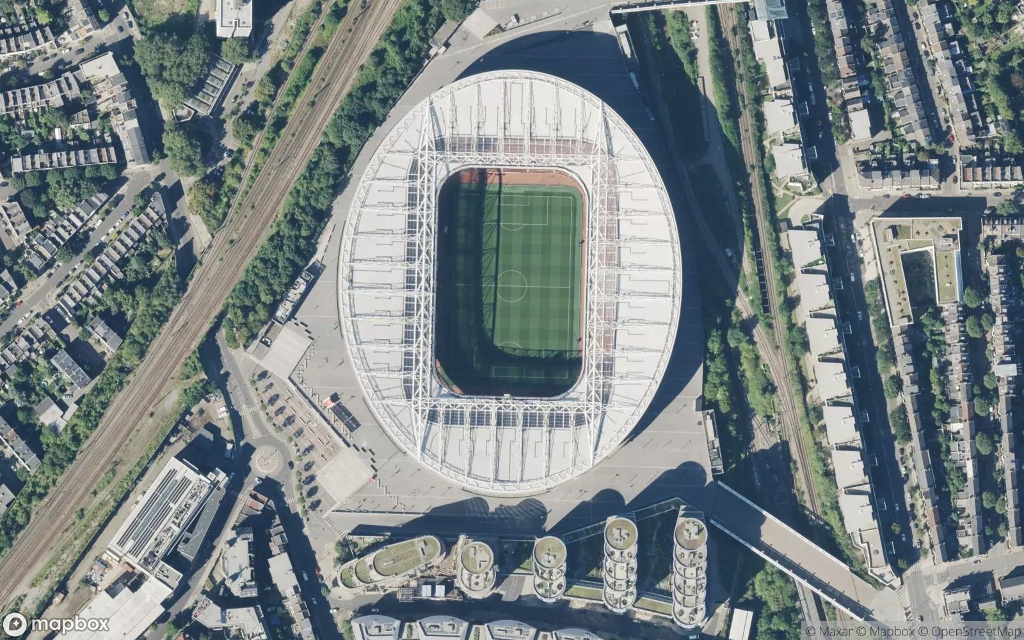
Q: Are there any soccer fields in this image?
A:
Yes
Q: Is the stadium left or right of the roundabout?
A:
on the right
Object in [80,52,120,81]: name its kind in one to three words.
building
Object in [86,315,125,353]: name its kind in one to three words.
building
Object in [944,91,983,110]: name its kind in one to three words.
house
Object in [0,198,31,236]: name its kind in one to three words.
house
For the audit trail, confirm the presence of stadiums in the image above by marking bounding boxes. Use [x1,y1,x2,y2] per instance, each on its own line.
[337,70,683,496]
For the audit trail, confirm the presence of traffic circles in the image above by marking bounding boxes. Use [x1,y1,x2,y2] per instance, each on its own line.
[243,436,292,484]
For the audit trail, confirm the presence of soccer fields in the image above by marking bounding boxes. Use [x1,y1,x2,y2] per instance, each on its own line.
[443,182,583,389]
